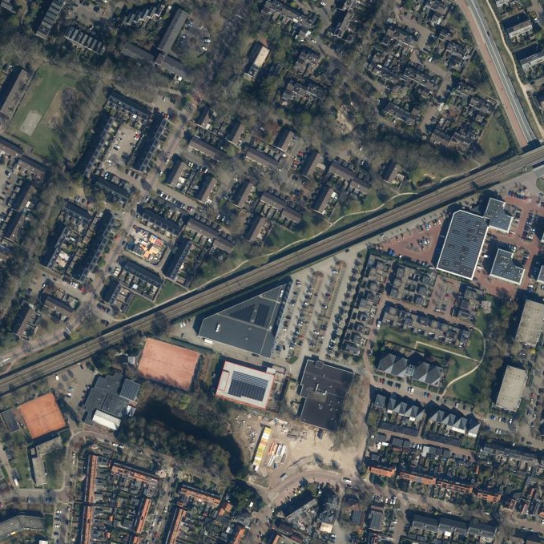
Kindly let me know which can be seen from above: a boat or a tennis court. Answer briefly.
tennis court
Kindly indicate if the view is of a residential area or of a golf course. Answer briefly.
residential area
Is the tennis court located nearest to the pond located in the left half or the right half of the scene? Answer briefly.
left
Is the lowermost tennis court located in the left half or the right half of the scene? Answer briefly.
left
